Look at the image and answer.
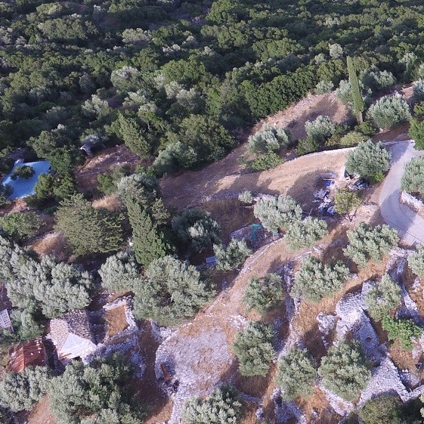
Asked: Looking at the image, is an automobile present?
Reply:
No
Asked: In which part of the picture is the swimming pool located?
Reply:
left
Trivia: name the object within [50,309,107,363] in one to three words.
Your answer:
shed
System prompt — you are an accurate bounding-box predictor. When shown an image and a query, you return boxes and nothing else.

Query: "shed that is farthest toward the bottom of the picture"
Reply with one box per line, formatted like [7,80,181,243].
[7,340,52,379]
